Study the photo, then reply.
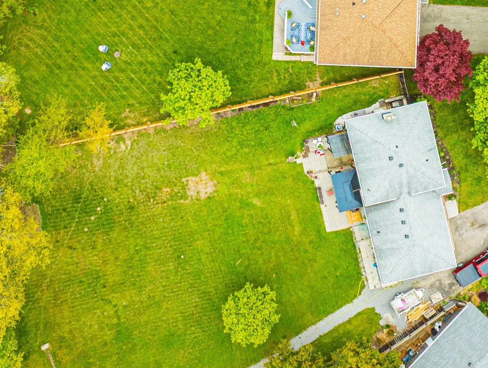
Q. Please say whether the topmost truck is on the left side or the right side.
right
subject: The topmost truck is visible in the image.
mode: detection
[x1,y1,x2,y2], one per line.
[450,245,488,289]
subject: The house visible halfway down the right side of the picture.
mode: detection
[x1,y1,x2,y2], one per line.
[343,101,457,287]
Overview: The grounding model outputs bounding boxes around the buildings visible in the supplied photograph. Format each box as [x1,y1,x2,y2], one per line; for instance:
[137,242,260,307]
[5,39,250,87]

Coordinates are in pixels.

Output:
[343,101,457,287]
[314,0,422,69]
[400,298,488,368]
